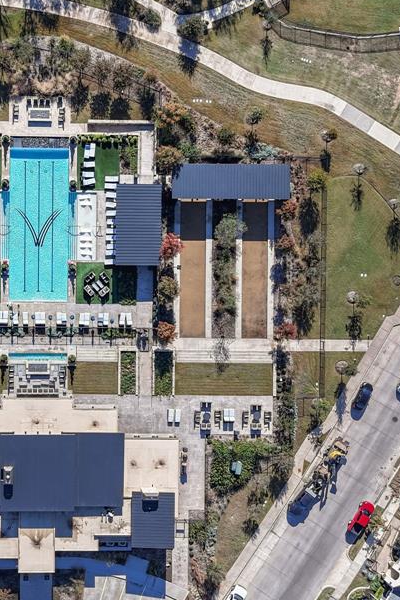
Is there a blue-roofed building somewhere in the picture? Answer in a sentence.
Yes, there's a blue-roofed building down there.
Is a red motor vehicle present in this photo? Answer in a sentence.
Yes, there is a red motor vehicle in the image.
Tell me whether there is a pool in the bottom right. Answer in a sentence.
No, I see no pool in the bottom right.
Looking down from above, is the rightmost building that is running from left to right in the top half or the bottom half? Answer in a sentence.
It is in the top half that the rightmost building that is running from left to right appears.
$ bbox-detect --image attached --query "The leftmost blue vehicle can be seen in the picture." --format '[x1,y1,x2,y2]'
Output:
[290,486,321,527]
